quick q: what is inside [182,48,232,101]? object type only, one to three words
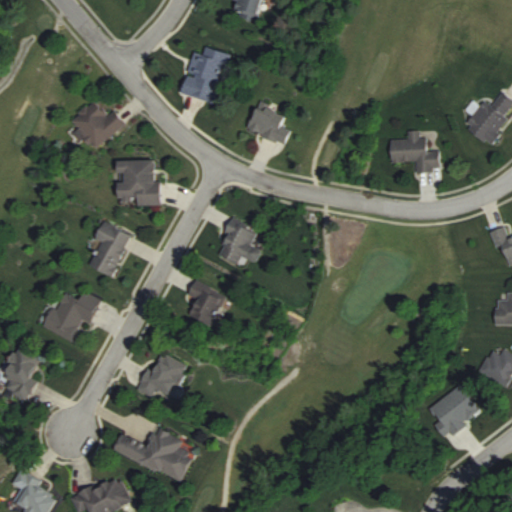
house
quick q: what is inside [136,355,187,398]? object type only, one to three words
house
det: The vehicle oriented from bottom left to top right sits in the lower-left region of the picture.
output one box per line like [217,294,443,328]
[82,438,94,454]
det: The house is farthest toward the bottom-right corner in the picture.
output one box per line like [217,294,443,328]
[430,388,476,437]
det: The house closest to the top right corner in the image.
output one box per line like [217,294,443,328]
[467,88,512,144]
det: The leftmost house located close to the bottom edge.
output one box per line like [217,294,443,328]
[13,471,55,512]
